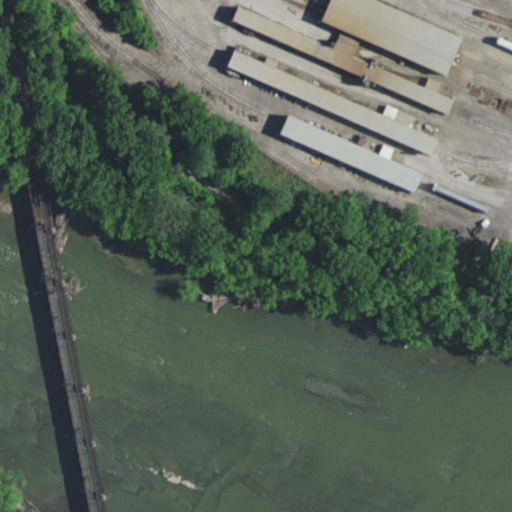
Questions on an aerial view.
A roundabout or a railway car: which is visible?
railway car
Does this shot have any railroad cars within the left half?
No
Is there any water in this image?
Yes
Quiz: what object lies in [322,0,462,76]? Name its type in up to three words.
building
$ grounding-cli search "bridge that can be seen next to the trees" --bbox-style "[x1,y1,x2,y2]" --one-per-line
[30,181,107,512]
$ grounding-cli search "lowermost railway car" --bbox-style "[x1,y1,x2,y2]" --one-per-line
[432,184,488,214]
